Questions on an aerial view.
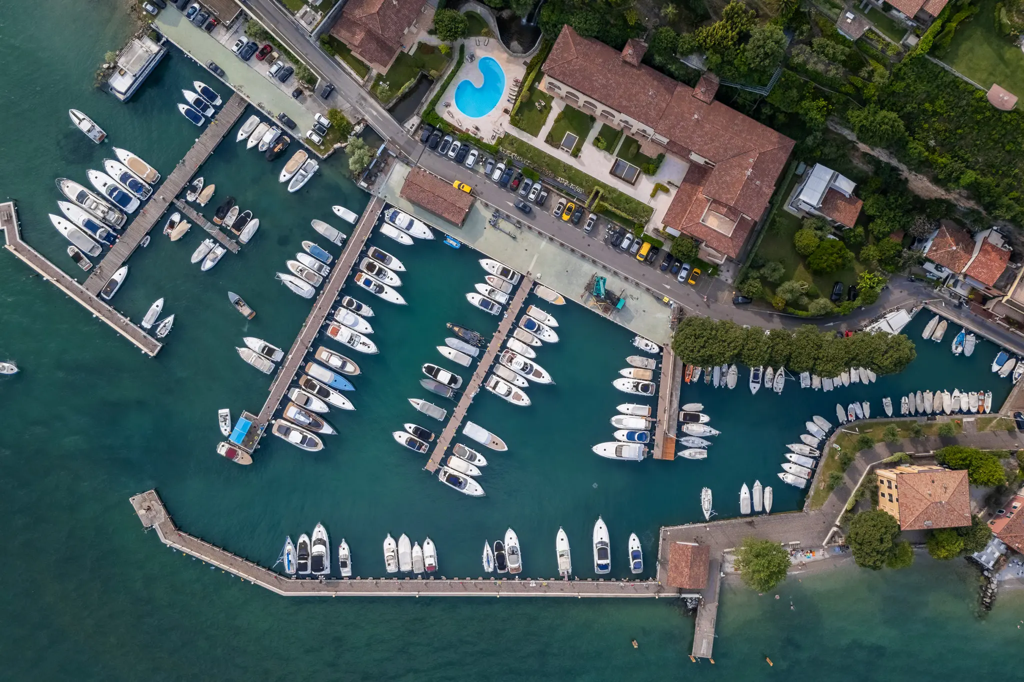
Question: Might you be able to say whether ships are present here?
Yes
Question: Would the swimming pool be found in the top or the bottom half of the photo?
top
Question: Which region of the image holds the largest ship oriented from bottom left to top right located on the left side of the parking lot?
top left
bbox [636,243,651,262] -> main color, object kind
yellow vehicle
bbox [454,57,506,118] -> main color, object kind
blue swimming pool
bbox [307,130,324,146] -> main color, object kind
white car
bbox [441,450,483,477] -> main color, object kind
white boat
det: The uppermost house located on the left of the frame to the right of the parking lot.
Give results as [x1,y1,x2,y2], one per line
[329,0,427,73]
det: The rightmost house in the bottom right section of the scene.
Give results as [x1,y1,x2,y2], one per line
[982,486,1024,553]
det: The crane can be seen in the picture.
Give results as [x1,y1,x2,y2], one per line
[582,273,628,314]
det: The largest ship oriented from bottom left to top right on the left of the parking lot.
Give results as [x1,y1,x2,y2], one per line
[103,30,167,98]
